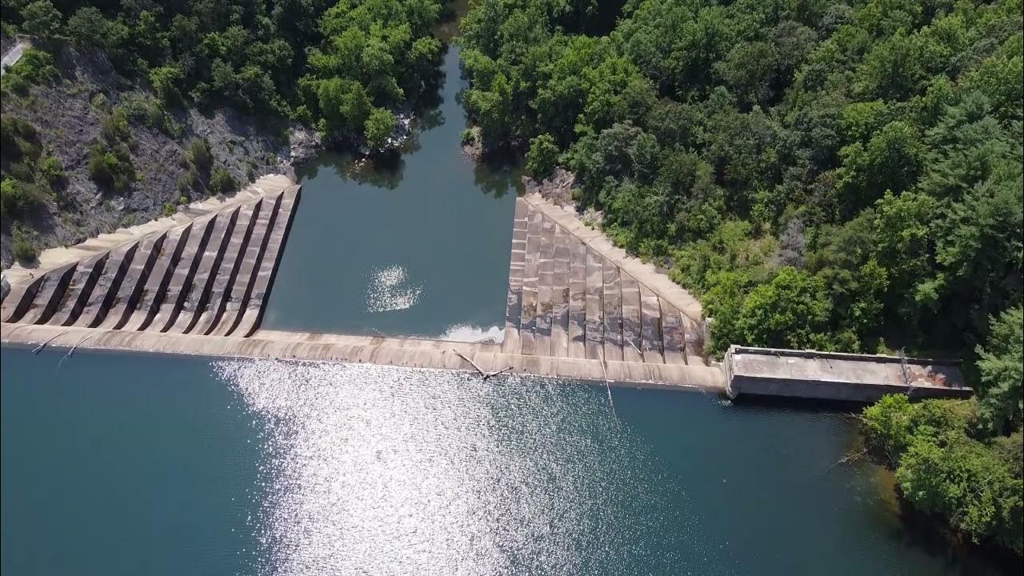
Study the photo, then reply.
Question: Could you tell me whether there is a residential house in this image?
No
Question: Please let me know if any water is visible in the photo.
Yes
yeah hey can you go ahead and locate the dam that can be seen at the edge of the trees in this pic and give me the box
[0,171,716,387]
